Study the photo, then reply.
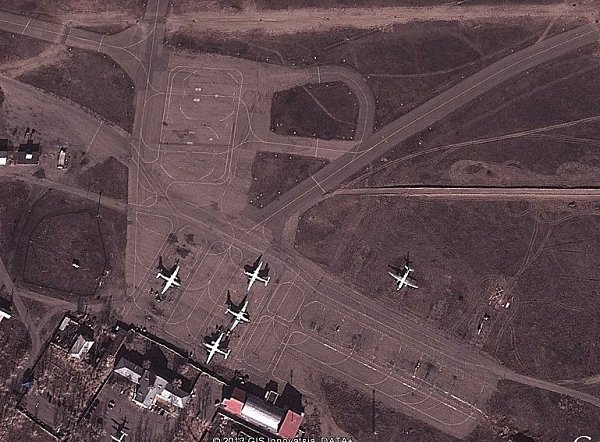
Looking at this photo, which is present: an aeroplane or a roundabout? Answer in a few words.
aeroplane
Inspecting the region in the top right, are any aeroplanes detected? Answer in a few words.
No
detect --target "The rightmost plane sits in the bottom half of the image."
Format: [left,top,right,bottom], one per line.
[388,264,420,290]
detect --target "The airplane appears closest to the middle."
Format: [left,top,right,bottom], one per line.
[244,261,271,292]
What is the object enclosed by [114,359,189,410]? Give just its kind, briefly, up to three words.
building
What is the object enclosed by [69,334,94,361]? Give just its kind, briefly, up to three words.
house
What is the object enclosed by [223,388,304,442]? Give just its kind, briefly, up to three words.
building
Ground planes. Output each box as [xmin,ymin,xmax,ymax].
[154,264,180,295]
[109,432,127,442]
[388,264,420,290]
[223,301,250,332]
[204,334,231,364]
[244,261,271,292]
